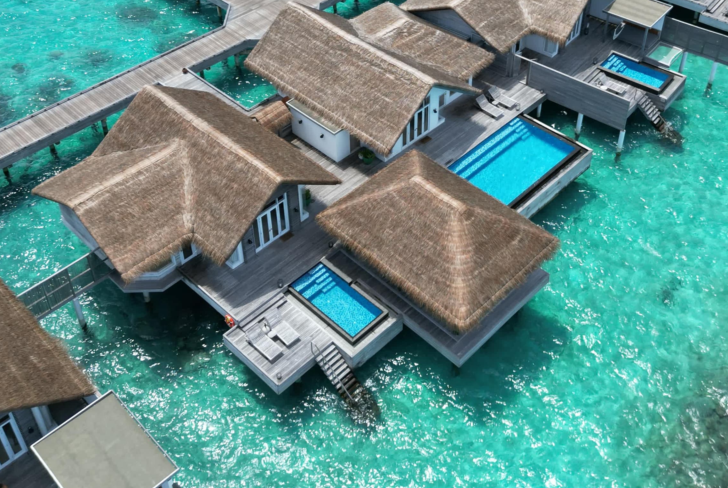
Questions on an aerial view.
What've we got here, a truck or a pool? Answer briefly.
pool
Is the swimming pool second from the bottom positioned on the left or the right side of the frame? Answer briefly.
right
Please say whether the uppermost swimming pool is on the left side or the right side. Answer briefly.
right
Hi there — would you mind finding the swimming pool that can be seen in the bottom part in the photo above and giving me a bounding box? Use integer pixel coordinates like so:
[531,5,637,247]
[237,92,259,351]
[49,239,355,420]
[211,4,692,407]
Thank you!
[283,258,403,368]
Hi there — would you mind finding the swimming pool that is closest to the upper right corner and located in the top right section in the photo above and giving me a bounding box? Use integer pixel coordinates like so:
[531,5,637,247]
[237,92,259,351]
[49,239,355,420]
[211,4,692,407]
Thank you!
[596,50,687,112]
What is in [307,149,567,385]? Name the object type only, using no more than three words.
building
